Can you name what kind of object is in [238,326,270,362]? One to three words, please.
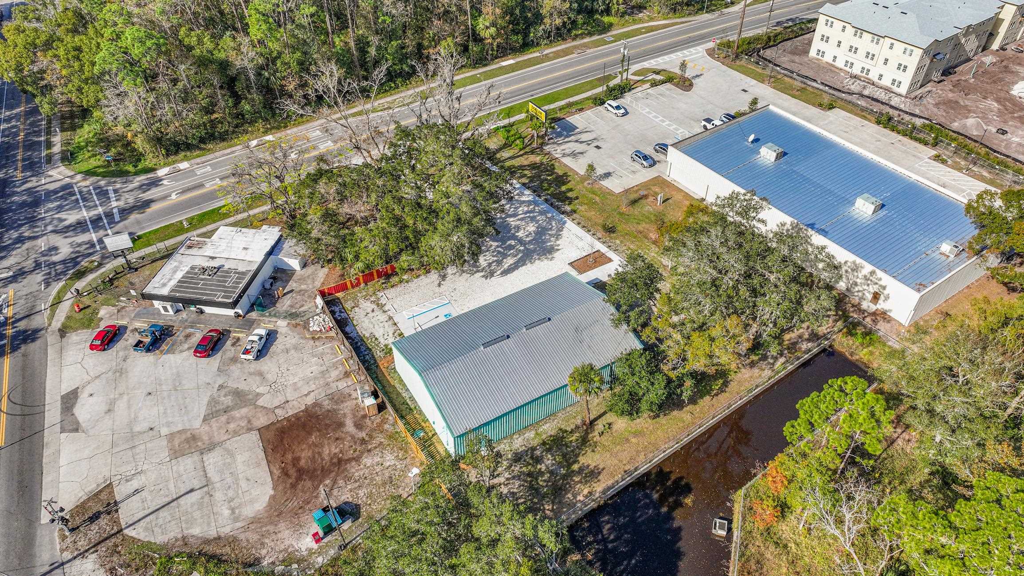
truck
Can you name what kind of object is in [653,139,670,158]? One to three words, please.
car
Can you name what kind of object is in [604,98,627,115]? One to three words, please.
car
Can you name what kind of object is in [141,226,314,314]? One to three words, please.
building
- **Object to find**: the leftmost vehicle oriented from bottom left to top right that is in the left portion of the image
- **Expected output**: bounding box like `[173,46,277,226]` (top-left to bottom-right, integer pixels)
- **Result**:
[86,323,120,352]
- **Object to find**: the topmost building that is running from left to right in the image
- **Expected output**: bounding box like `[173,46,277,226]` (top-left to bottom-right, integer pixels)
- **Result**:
[809,0,1024,95]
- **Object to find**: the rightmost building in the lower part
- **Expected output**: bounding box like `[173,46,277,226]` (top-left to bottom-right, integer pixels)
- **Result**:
[389,269,648,459]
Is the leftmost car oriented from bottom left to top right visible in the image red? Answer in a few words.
Yes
